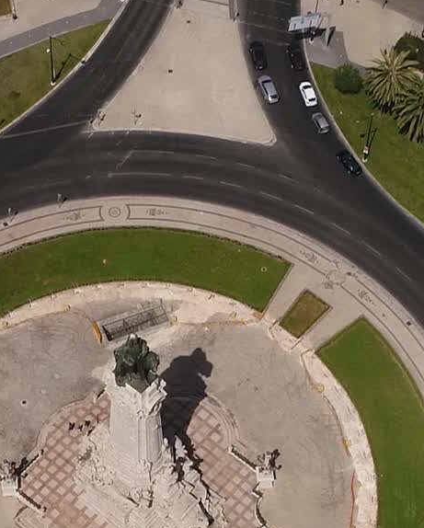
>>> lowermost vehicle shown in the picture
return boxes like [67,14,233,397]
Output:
[334,148,363,176]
